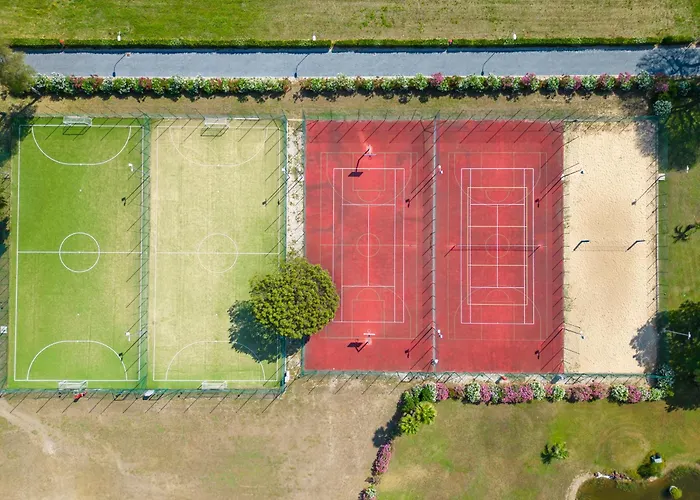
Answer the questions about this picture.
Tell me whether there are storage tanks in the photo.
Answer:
No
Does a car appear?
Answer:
No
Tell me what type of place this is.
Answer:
sports ground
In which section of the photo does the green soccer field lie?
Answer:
left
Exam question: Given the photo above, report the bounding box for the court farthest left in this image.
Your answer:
[305,120,434,372]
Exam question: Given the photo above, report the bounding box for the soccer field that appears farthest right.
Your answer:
[148,118,287,389]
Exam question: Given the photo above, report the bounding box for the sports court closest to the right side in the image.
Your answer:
[563,120,658,372]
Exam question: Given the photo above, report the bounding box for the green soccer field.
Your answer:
[8,118,150,389]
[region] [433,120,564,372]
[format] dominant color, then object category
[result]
red sports court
